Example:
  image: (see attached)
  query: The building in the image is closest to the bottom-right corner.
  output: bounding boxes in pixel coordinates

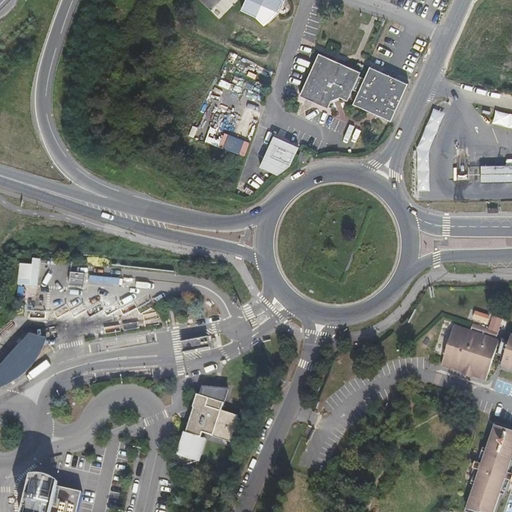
[464,424,512,512]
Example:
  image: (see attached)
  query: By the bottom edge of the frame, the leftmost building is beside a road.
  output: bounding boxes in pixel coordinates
[18,468,60,512]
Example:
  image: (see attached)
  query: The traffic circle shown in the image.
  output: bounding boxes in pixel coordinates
[254,164,418,324]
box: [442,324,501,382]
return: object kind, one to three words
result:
house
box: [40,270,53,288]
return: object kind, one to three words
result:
vehicle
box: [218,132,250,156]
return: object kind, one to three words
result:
shed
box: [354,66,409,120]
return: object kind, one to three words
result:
building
